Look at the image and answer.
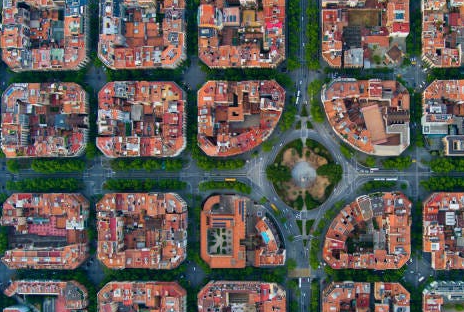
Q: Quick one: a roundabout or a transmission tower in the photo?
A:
roundabout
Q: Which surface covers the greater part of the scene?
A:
buildings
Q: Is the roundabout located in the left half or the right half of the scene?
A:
right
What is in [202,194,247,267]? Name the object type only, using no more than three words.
building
